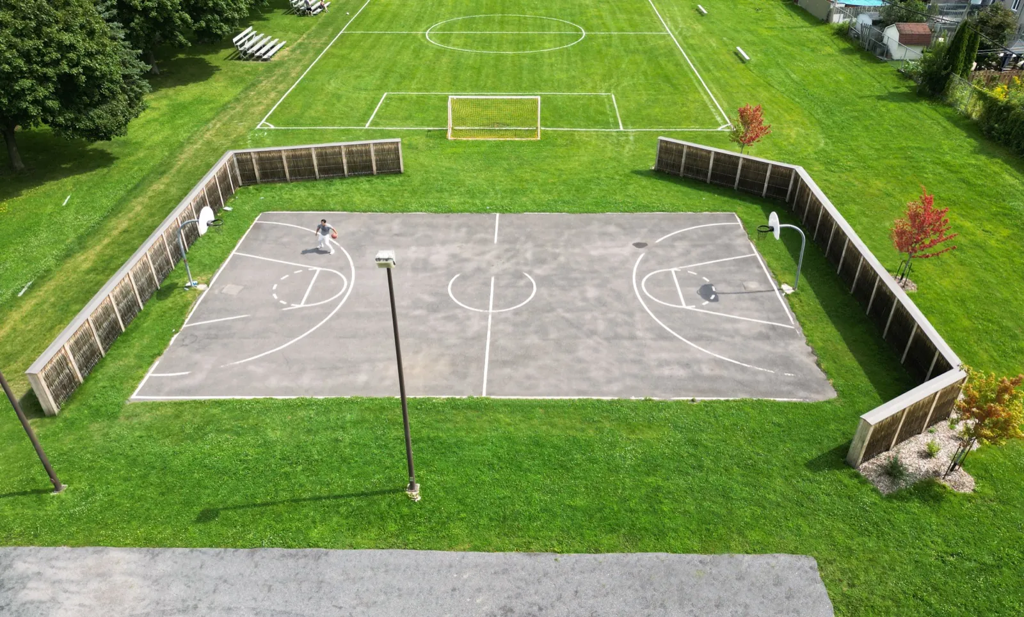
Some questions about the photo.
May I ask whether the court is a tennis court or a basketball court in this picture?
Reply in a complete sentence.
In the photo, the court shows up as a basketball court.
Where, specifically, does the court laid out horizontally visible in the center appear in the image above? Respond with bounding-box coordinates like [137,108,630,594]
[130,211,838,401]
